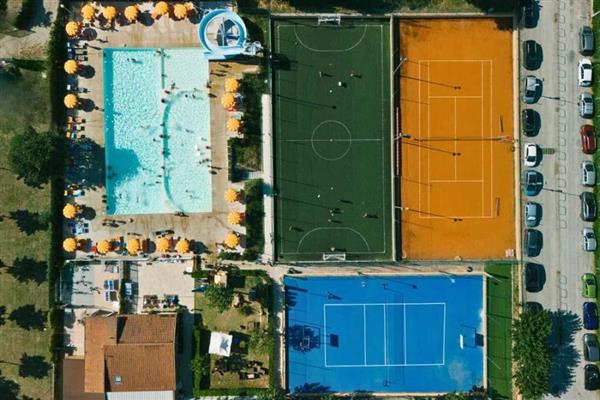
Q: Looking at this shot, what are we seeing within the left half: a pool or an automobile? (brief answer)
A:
pool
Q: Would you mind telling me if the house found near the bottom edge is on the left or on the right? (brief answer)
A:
left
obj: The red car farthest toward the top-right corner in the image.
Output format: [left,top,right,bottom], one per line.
[579,124,595,155]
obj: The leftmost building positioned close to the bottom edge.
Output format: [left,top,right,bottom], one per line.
[63,312,179,400]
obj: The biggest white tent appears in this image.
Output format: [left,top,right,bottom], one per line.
[209,329,234,355]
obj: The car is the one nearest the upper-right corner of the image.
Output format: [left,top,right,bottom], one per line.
[578,23,595,57]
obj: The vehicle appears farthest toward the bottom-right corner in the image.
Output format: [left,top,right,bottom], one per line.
[584,363,599,391]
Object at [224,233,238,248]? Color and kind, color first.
orange umbrella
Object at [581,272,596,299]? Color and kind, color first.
green car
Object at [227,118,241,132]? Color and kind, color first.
orange umbrella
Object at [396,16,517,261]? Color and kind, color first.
orange tennis court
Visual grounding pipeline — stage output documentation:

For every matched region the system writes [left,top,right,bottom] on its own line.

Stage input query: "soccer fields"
[272,15,393,262]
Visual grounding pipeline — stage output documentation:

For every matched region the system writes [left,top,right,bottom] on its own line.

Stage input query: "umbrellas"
[63,203,77,218]
[81,5,96,20]
[174,5,189,19]
[66,22,81,36]
[227,118,241,132]
[125,7,139,22]
[64,60,78,75]
[221,95,236,110]
[175,238,190,253]
[103,6,117,21]
[97,240,111,254]
[227,210,241,225]
[225,77,239,93]
[224,233,238,248]
[224,189,239,203]
[156,237,171,252]
[63,238,79,252]
[126,238,140,253]
[64,94,79,110]
[155,2,169,18]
